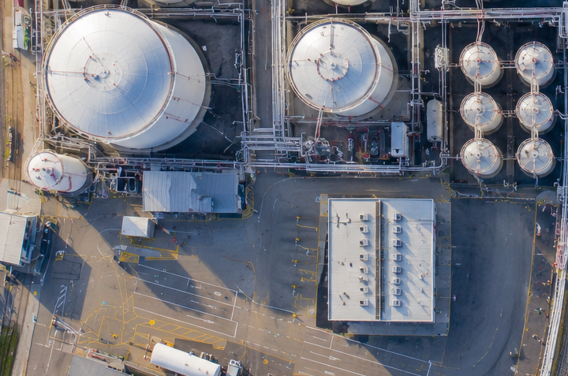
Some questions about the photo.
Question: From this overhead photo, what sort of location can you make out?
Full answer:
The picture captures an industrial area.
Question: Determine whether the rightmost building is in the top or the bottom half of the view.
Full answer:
Seen from above, the rightmost building lies in the bottom half of the view.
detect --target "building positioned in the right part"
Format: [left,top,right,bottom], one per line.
[327,197,438,323]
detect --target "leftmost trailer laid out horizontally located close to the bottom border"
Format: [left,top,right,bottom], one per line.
[148,345,221,376]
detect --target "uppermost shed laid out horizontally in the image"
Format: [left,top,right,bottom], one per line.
[142,171,245,220]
